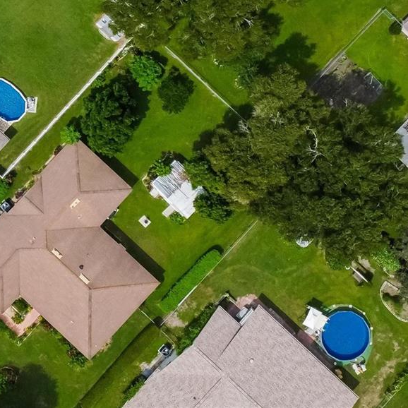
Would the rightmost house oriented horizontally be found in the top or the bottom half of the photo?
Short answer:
bottom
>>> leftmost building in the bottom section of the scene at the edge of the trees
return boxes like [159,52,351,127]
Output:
[0,140,160,359]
